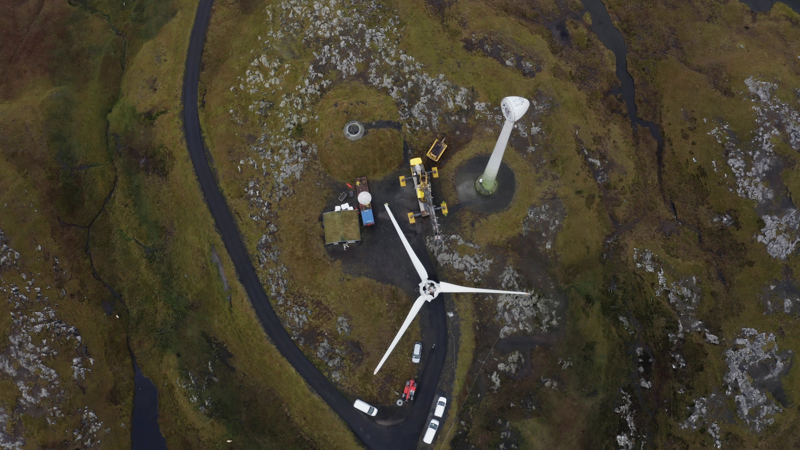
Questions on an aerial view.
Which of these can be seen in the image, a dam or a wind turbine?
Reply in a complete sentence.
The one in the frame is a wind turbine.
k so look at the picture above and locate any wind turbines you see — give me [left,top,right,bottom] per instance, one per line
[476,96,532,196]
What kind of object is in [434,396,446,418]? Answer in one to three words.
vehicle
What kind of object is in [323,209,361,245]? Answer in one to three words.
shed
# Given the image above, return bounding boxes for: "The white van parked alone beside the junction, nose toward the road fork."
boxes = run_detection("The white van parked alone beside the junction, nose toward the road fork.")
[352,397,379,415]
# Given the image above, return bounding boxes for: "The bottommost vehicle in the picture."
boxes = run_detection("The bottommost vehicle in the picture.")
[422,419,441,445]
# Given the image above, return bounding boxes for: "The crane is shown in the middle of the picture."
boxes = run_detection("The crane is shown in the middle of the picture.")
[399,157,448,245]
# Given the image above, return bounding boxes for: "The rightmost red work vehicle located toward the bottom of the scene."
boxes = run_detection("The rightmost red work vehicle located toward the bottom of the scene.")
[402,380,417,405]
